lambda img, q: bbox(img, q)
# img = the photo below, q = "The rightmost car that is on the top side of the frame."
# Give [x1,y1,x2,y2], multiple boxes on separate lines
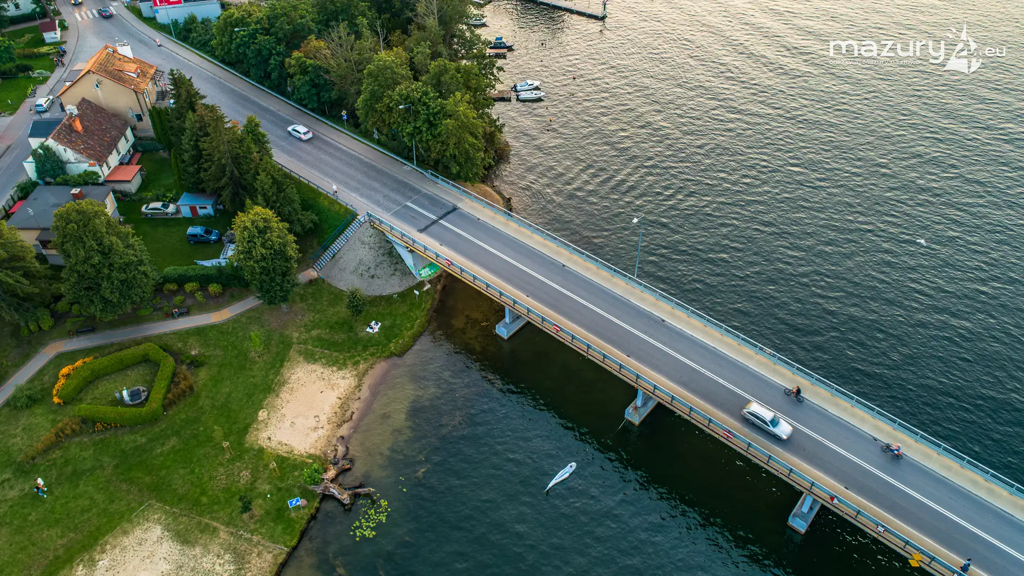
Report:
[281,123,310,141]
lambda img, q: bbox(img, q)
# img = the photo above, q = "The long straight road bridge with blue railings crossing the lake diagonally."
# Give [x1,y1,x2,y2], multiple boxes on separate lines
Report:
[368,168,1024,576]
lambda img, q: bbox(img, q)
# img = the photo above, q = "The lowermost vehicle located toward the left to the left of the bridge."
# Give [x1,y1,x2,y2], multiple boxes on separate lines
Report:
[183,224,219,242]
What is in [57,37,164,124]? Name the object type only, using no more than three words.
house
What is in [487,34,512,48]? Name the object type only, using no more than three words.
boat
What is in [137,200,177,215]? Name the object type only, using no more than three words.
car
